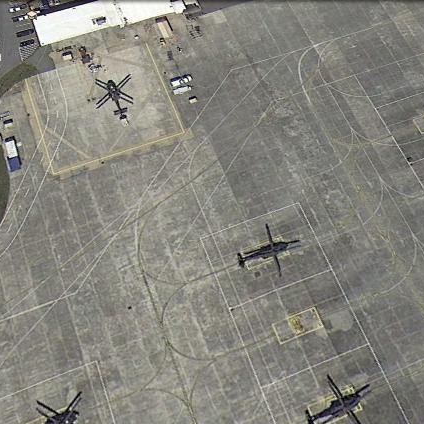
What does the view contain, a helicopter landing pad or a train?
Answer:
helicopter landing pad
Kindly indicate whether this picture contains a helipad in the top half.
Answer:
Yes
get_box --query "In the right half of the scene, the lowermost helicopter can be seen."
[298,380,365,424]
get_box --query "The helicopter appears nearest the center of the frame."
[235,224,297,270]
